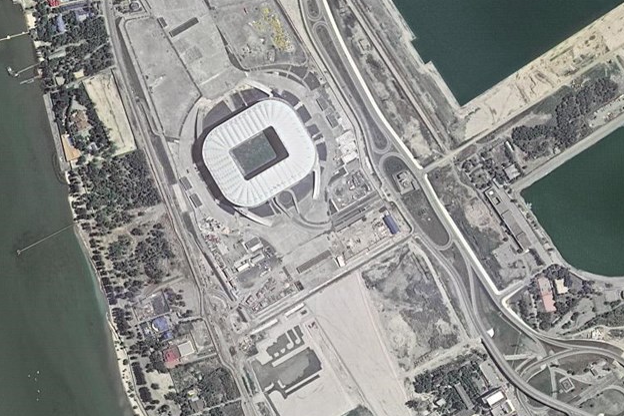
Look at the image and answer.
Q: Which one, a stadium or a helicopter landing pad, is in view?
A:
stadium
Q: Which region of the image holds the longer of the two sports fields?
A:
top left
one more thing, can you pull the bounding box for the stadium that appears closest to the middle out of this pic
[203,80,324,227]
